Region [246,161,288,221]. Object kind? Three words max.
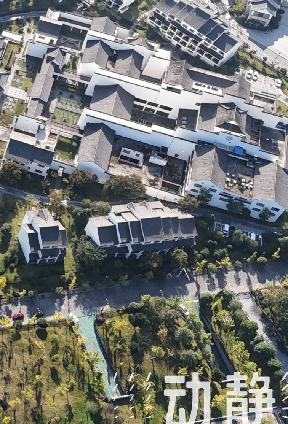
building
